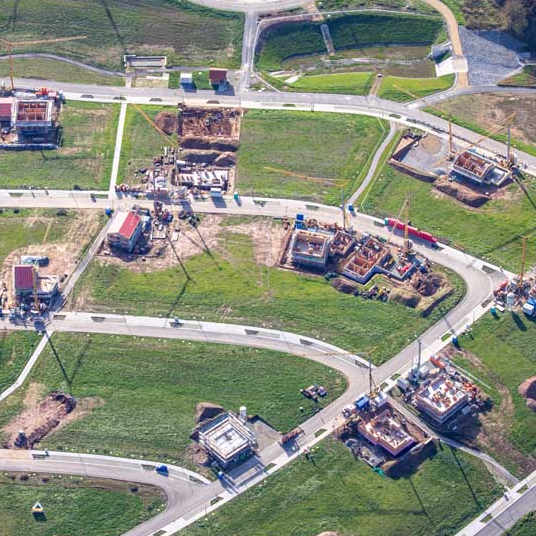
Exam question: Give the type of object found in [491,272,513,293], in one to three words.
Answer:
truck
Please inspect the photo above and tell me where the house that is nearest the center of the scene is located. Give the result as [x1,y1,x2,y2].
[292,230,331,267]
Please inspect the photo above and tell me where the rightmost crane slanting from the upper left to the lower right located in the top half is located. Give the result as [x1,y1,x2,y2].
[265,166,361,238]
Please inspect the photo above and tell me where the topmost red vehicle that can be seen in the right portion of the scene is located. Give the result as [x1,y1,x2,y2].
[386,217,438,246]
